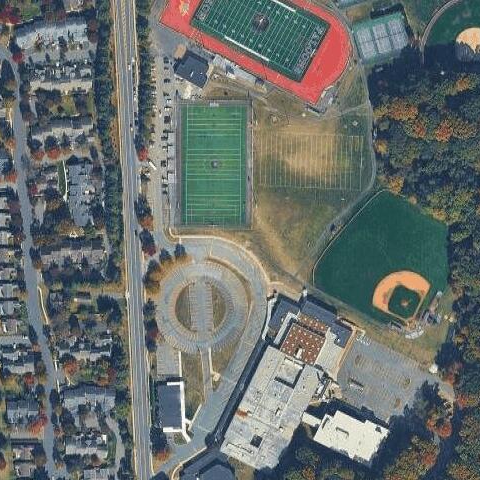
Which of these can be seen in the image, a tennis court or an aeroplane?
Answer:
tennis court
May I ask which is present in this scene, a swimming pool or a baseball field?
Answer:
baseball field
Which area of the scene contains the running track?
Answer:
top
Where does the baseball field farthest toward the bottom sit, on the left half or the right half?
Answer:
right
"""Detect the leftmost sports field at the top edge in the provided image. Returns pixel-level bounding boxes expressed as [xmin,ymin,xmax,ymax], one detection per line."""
[190,0,330,82]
